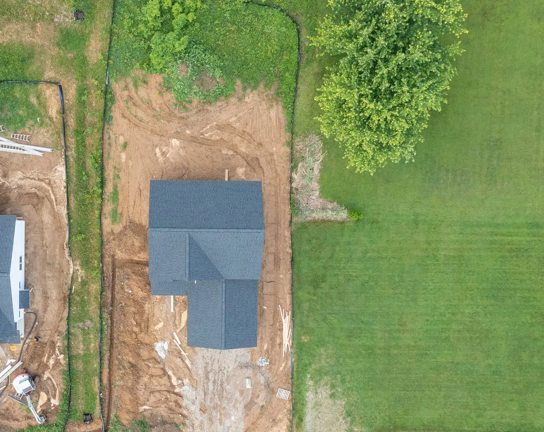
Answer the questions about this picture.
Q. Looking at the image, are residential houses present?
Yes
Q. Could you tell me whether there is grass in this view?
Yes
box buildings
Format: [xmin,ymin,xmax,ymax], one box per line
[0,210,32,344]
[148,180,266,349]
